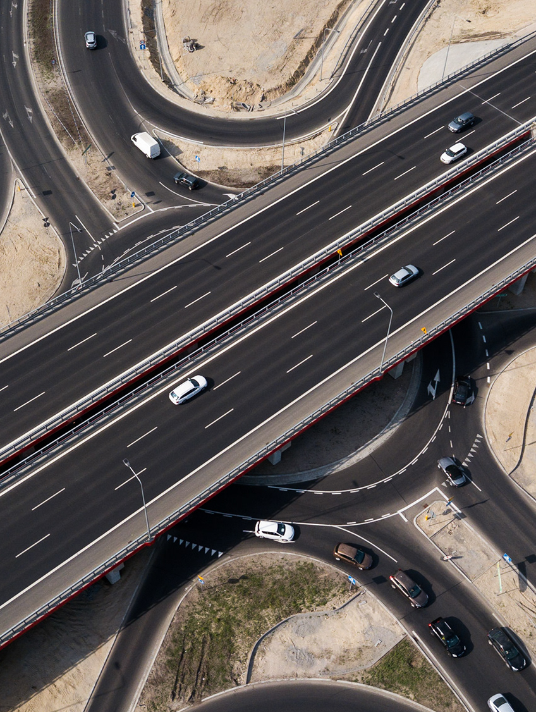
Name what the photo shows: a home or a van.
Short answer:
van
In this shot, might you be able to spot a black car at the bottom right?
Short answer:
Yes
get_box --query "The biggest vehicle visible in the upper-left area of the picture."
[129,131,161,160]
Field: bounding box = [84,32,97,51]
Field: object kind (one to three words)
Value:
vehicle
